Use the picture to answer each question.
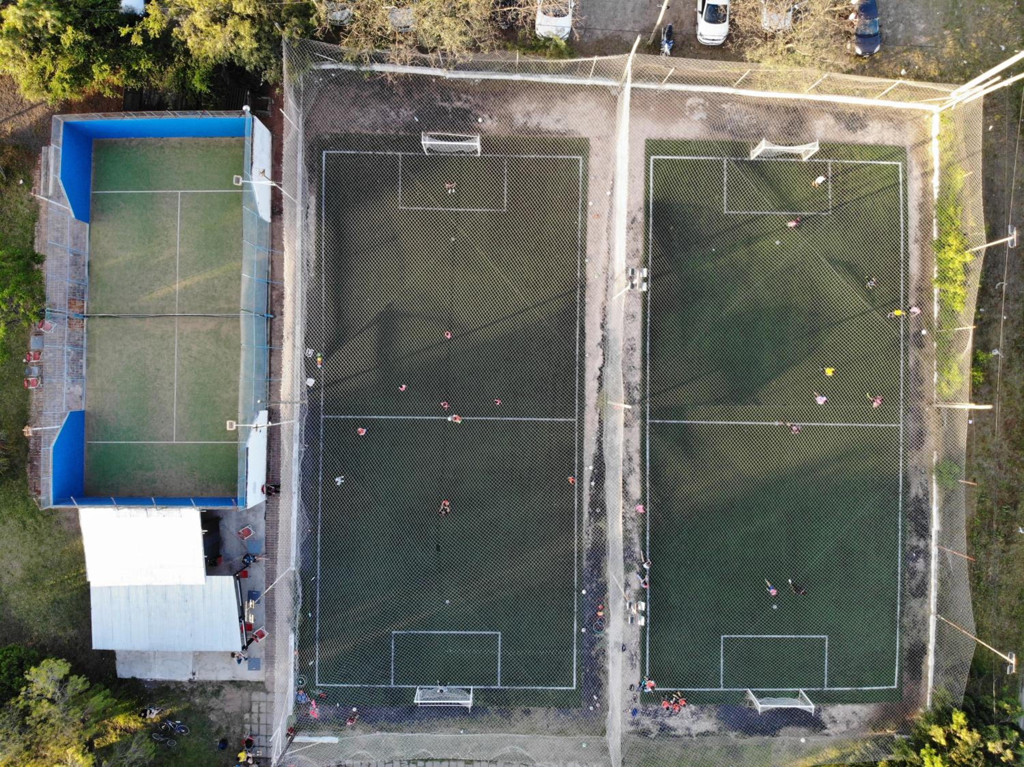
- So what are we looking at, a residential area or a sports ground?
sports ground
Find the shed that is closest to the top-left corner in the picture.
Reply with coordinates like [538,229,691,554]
[123,73,262,120]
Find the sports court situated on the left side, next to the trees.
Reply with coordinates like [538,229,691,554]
[35,107,274,512]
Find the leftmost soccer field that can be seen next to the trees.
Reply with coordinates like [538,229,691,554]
[296,134,589,708]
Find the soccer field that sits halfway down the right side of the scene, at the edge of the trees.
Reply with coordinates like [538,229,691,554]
[640,139,907,705]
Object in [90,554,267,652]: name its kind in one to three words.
building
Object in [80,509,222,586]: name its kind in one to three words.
building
